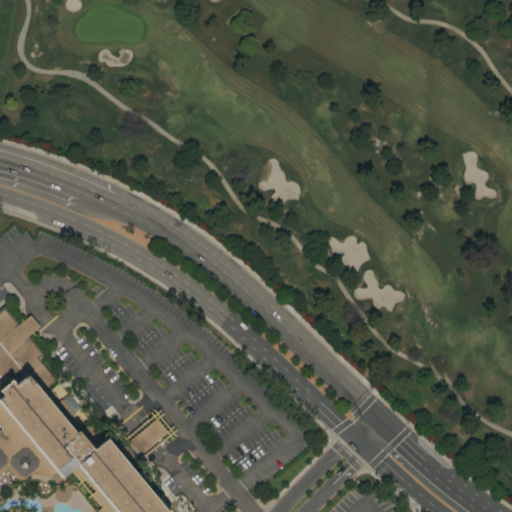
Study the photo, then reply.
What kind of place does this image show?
golf course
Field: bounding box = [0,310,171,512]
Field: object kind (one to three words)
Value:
building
